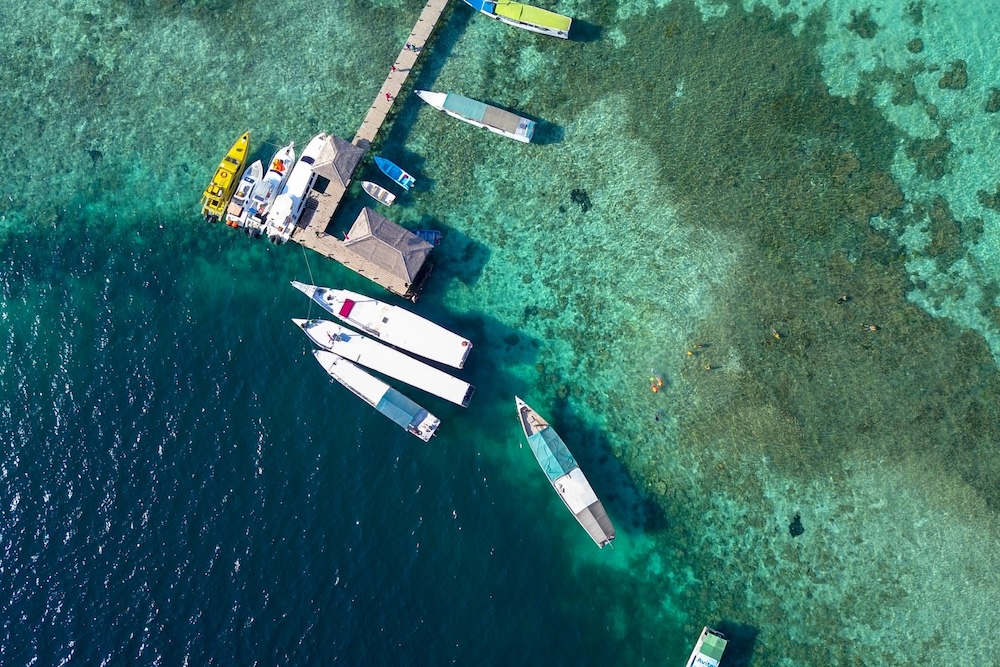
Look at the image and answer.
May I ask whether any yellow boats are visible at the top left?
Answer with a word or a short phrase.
Yes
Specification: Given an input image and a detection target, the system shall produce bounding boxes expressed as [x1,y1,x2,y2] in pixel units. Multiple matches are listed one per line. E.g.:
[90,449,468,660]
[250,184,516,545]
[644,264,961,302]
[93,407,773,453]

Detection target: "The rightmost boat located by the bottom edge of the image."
[682,626,728,667]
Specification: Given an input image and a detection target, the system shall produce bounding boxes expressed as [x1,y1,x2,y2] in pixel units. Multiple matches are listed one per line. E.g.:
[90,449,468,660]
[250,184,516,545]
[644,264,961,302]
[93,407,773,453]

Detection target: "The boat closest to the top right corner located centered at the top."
[470,0,575,39]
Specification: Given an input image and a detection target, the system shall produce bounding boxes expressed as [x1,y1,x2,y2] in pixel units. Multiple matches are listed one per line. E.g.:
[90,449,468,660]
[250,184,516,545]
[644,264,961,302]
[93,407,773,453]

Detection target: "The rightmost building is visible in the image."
[344,207,434,283]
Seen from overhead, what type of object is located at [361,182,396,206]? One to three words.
boat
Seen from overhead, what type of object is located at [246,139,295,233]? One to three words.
boat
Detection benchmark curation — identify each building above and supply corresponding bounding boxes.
[344,207,434,283]
[312,133,364,188]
